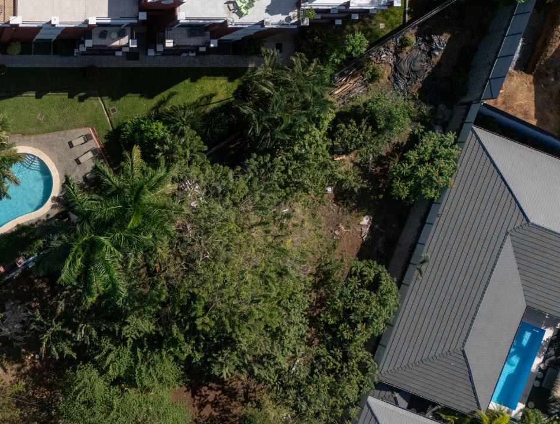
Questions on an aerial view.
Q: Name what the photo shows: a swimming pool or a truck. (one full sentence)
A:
Of the two, only a swimming pool appears.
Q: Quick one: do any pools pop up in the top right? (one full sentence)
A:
No, no pool is visible in the top right.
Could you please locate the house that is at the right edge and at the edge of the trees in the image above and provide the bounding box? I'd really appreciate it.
[378,125,560,415]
